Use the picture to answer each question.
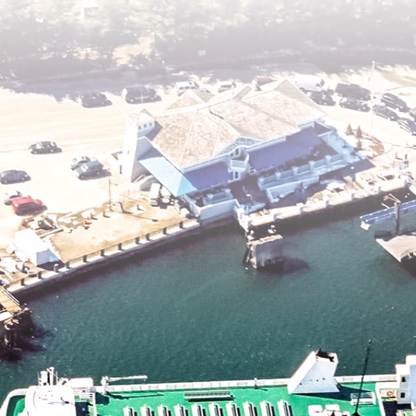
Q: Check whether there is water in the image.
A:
Yes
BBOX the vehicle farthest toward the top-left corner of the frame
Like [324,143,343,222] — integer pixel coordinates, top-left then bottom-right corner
[78,93,111,107]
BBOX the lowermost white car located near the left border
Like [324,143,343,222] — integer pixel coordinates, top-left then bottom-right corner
[0,191,31,206]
